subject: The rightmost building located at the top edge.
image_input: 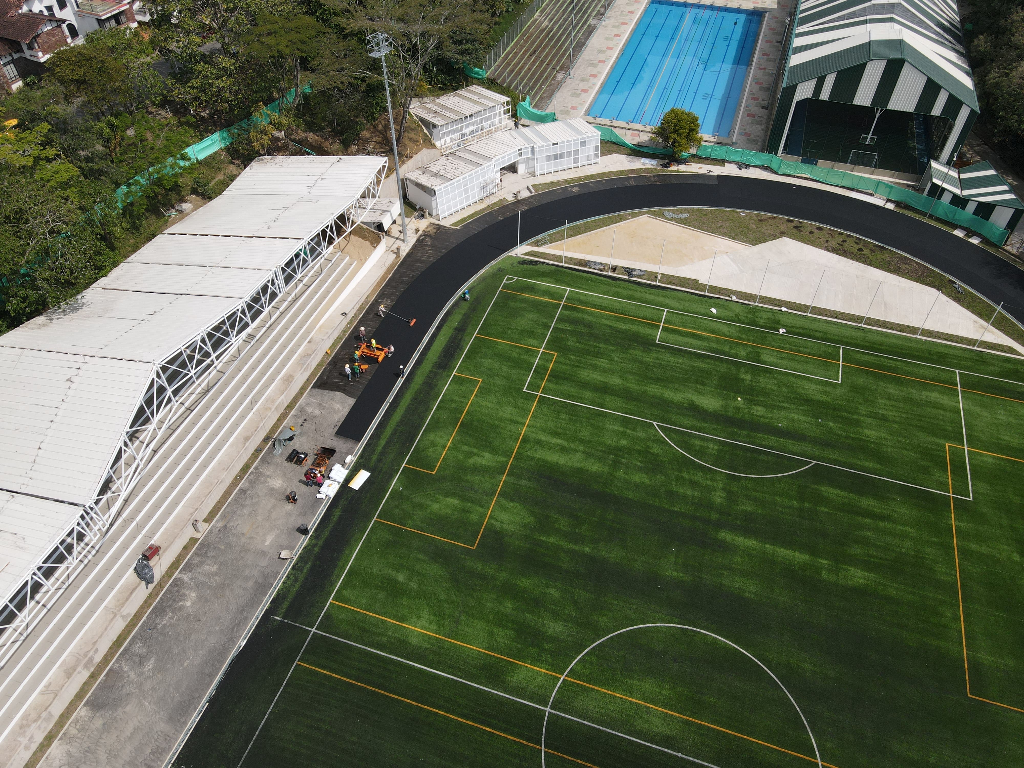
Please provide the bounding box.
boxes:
[764,0,982,183]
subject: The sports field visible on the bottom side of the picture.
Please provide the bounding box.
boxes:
[170,255,1024,768]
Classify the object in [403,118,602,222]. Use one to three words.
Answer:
building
